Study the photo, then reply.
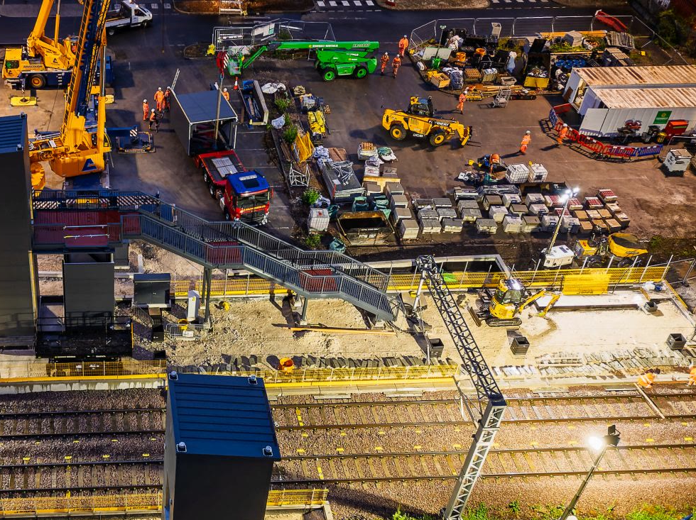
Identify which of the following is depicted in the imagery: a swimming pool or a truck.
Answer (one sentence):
Visible in the photo is a truck.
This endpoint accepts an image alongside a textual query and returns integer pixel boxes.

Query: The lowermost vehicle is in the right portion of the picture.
[463,274,560,323]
